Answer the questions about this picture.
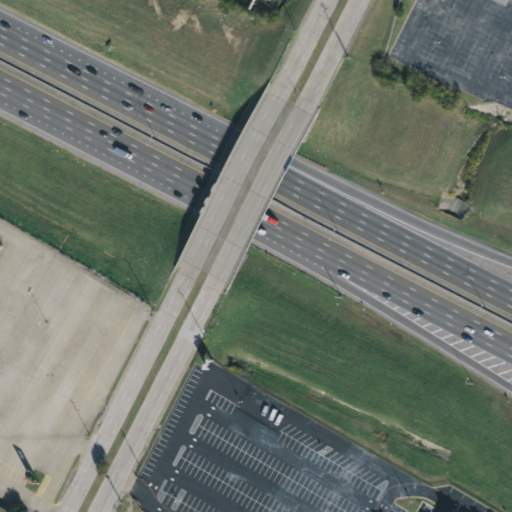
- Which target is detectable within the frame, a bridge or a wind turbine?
bridge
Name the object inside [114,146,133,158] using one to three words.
vehicle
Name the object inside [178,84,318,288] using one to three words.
bridge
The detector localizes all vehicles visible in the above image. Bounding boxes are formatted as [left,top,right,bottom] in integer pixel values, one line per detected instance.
[262,406,269,416]
[114,146,133,158]
[338,270,350,278]
[86,66,98,74]
[484,329,494,336]
[122,100,133,108]
[112,129,123,137]
[42,35,53,43]
[68,66,81,74]
[161,104,172,112]
[463,334,474,342]
[276,414,284,426]
[0,22,11,30]
[464,326,475,334]
[192,113,202,122]
[144,104,154,112]
[18,111,29,119]
[130,85,143,94]
[99,131,110,139]
[263,215,279,226]
[256,228,268,237]
[173,190,184,198]
[412,308,423,316]
[270,409,277,422]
